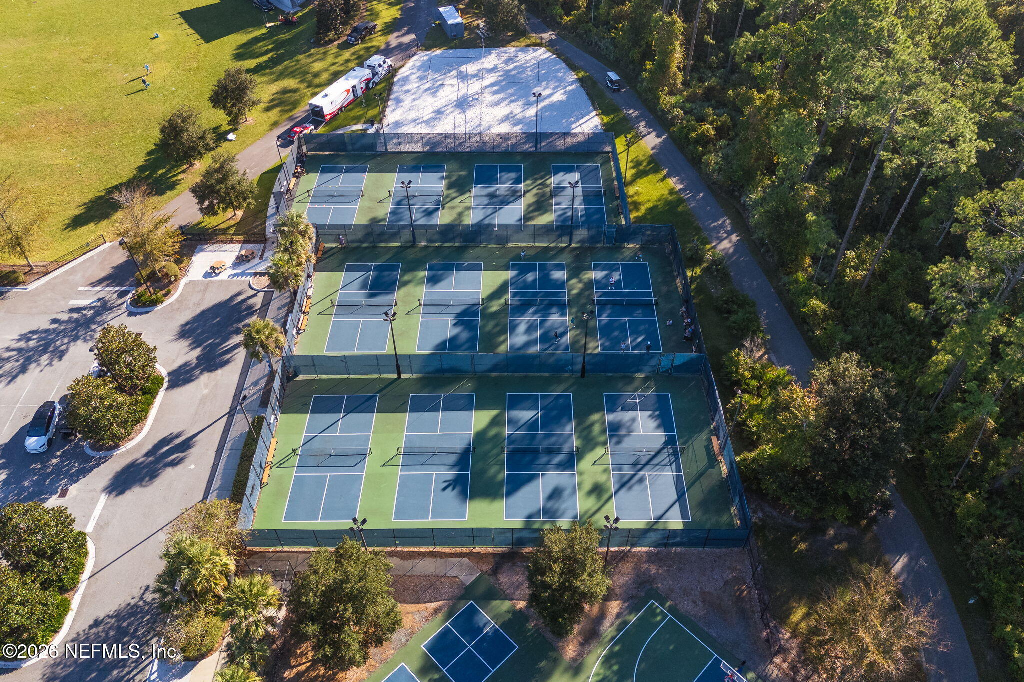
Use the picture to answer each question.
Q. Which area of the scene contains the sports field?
top left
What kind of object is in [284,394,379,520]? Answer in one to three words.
sports court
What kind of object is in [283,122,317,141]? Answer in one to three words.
car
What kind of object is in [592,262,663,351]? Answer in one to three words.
sports court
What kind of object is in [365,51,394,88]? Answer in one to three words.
truck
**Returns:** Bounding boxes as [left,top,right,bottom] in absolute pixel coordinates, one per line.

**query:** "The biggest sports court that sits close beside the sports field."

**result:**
[378,47,611,152]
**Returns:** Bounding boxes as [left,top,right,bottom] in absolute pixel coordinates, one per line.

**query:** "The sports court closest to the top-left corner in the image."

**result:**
[304,165,369,224]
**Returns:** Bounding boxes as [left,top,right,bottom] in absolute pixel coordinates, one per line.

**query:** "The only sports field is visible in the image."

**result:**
[0,0,404,269]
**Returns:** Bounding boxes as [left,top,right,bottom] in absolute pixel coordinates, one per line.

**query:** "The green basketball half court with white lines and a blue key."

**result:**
[590,601,753,682]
